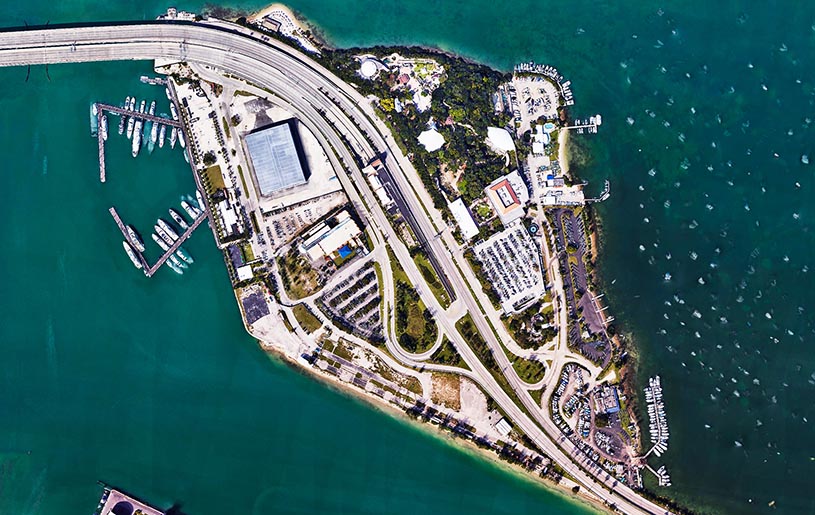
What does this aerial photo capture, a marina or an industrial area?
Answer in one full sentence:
This image shows a marina.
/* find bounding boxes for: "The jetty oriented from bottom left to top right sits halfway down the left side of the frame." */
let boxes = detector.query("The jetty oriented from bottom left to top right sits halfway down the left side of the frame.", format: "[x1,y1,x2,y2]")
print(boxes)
[147,210,207,275]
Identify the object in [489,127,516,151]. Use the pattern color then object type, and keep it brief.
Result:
white tent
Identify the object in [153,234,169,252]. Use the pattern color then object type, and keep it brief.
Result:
white boat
